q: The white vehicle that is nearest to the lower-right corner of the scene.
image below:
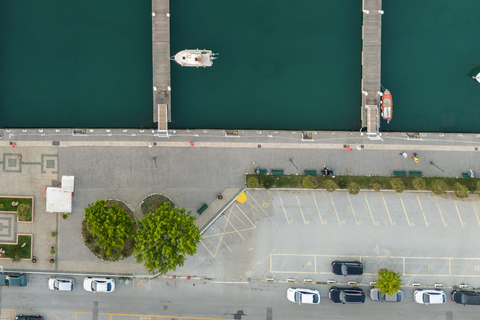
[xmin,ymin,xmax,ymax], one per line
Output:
[413,289,445,305]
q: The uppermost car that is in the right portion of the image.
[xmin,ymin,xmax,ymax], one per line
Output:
[331,261,363,276]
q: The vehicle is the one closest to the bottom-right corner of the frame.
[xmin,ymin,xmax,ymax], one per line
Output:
[450,289,480,306]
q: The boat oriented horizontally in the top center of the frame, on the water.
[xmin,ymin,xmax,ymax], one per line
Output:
[170,49,219,67]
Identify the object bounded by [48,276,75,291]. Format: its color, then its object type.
white car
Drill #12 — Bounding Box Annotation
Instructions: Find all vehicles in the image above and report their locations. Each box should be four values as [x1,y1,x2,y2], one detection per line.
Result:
[330,287,364,305]
[331,261,363,276]
[0,273,28,287]
[413,289,445,305]
[16,315,43,320]
[84,277,115,292]
[450,289,480,306]
[48,276,75,291]
[287,288,320,305]
[369,287,403,304]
